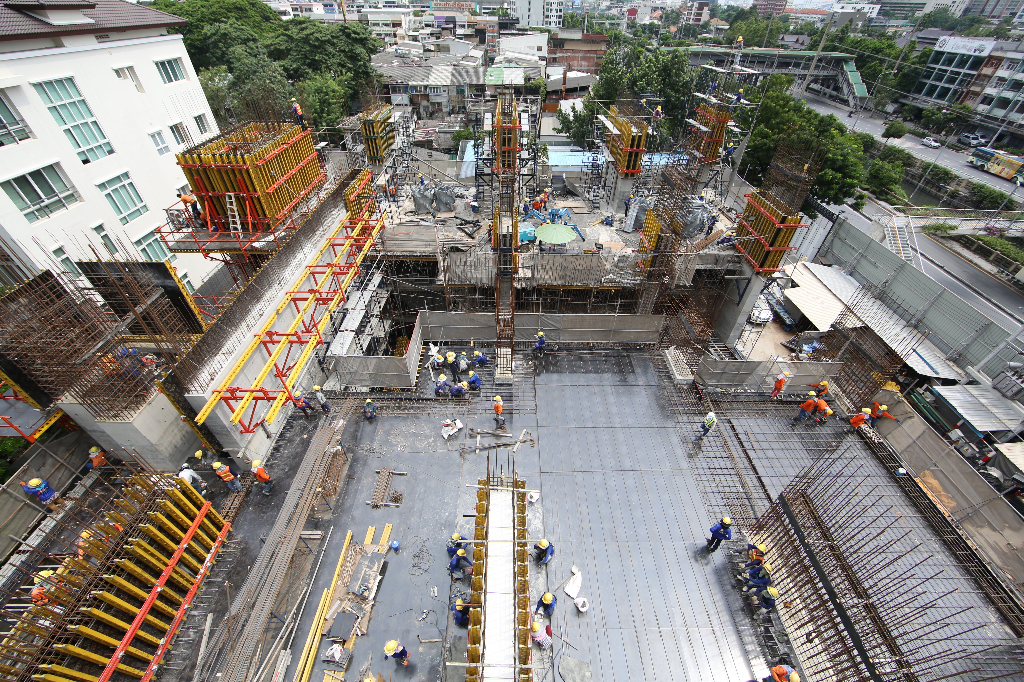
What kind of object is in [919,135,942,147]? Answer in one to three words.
vehicle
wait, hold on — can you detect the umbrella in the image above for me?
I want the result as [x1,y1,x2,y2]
[538,217,579,253]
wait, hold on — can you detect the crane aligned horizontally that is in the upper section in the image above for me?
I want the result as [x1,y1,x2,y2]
[526,200,582,227]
